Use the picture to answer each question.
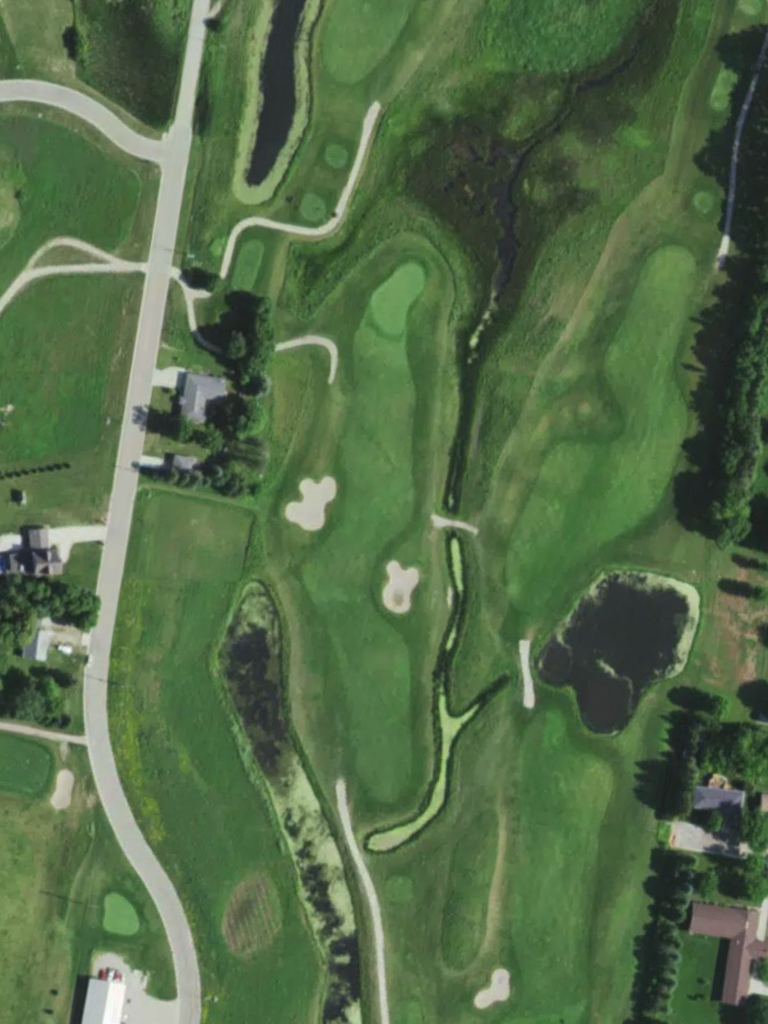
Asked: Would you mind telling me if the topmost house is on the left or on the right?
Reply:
left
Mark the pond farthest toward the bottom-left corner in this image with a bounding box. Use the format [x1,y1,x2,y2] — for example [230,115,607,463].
[220,581,361,1024]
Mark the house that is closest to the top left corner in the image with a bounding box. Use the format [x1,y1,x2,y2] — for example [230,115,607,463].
[179,370,231,423]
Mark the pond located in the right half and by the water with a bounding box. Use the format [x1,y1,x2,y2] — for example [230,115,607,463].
[536,568,700,736]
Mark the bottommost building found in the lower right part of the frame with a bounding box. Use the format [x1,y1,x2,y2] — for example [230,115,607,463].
[688,902,768,1009]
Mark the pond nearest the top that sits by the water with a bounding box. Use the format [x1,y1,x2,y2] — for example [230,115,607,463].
[234,0,322,204]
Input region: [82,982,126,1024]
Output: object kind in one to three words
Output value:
barn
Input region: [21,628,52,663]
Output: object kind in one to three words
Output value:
shed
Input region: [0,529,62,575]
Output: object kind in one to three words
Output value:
house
